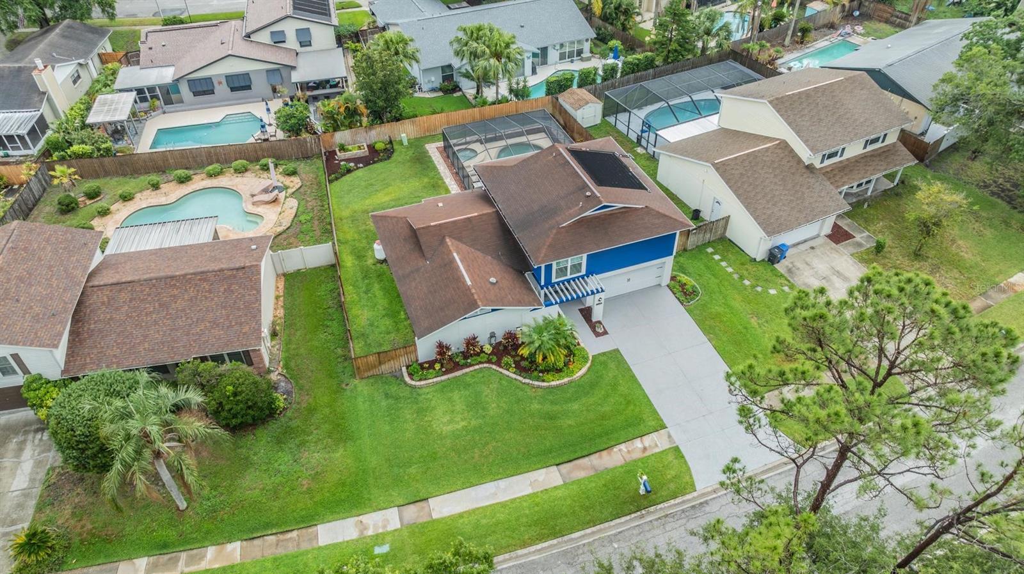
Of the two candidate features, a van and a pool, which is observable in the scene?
pool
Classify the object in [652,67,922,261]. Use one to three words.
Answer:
house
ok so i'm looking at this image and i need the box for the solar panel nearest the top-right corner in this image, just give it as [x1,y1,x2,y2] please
[564,144,649,192]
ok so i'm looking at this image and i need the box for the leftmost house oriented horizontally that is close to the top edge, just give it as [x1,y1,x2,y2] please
[114,0,350,107]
